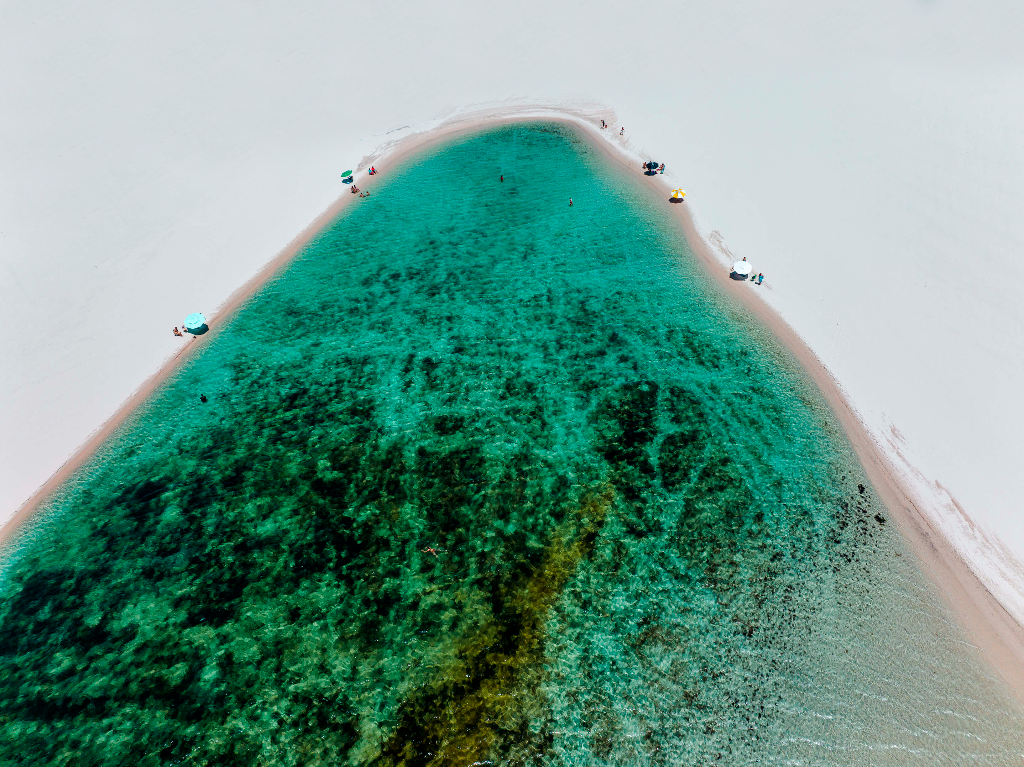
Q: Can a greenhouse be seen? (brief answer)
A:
No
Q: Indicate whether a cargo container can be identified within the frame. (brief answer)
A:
No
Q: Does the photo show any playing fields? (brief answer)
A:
No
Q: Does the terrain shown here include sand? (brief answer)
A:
Yes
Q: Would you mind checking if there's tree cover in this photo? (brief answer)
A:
No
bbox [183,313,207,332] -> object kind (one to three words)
umbrella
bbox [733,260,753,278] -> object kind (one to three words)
umbrella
